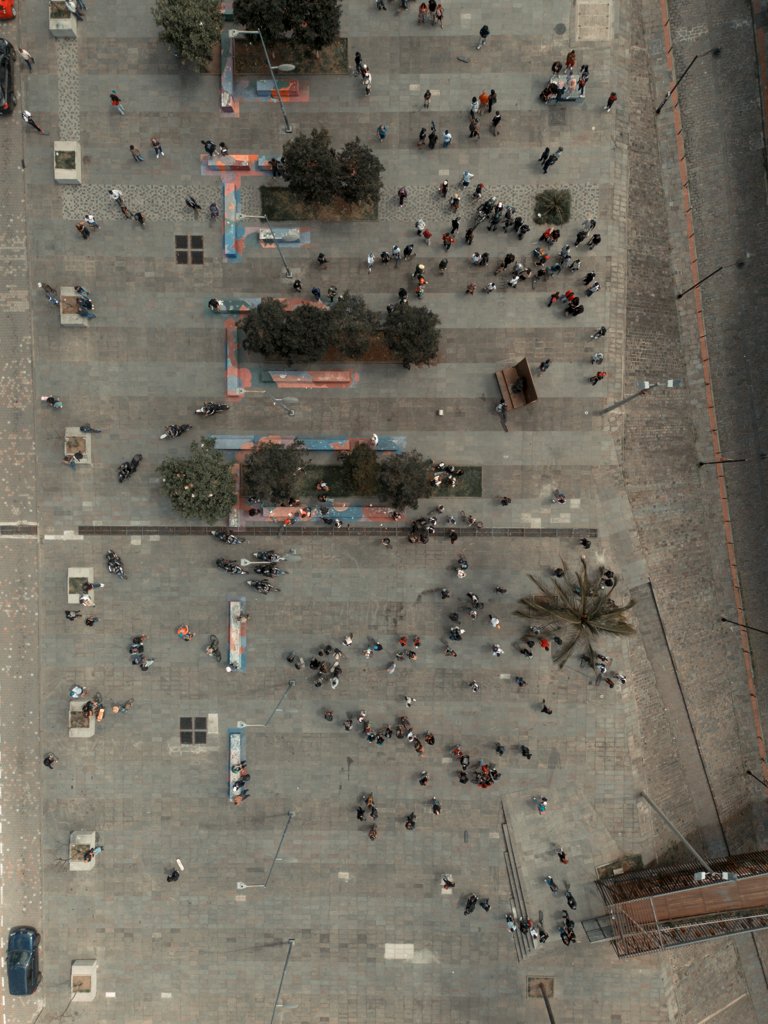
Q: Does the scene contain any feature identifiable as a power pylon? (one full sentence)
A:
No, this view has no power pylon in it.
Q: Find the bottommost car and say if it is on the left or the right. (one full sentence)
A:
You can find the bottommost car on the left side of the picture.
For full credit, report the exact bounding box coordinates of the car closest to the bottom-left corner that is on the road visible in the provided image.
[0,929,39,992]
